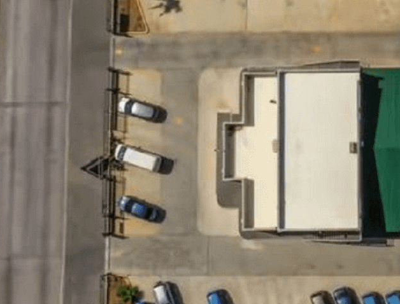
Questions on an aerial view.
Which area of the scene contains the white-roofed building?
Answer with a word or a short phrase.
right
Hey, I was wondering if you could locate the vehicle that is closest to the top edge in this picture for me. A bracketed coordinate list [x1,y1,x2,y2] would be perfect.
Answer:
[118,98,164,123]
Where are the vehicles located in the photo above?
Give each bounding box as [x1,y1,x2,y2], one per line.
[208,290,228,304]
[113,145,161,173]
[313,290,332,304]
[336,285,357,304]
[117,196,162,222]
[118,98,164,123]
[154,283,176,304]
[362,291,381,304]
[386,290,400,304]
